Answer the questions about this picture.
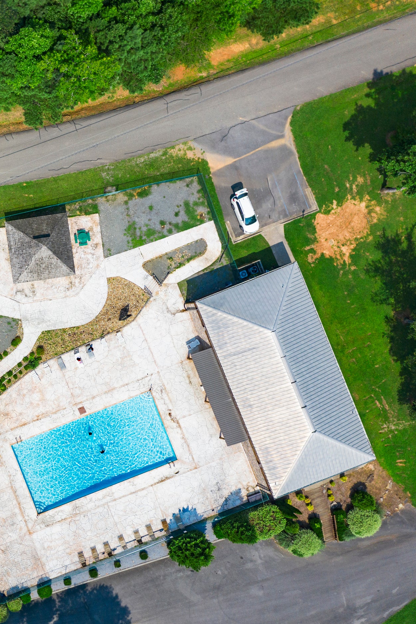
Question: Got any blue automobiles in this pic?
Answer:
No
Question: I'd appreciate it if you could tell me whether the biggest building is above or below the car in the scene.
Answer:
below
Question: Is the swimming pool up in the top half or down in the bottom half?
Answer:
bottom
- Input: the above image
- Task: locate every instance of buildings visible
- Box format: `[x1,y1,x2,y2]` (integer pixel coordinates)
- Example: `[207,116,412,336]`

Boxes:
[4,212,76,284]
[186,260,377,500]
